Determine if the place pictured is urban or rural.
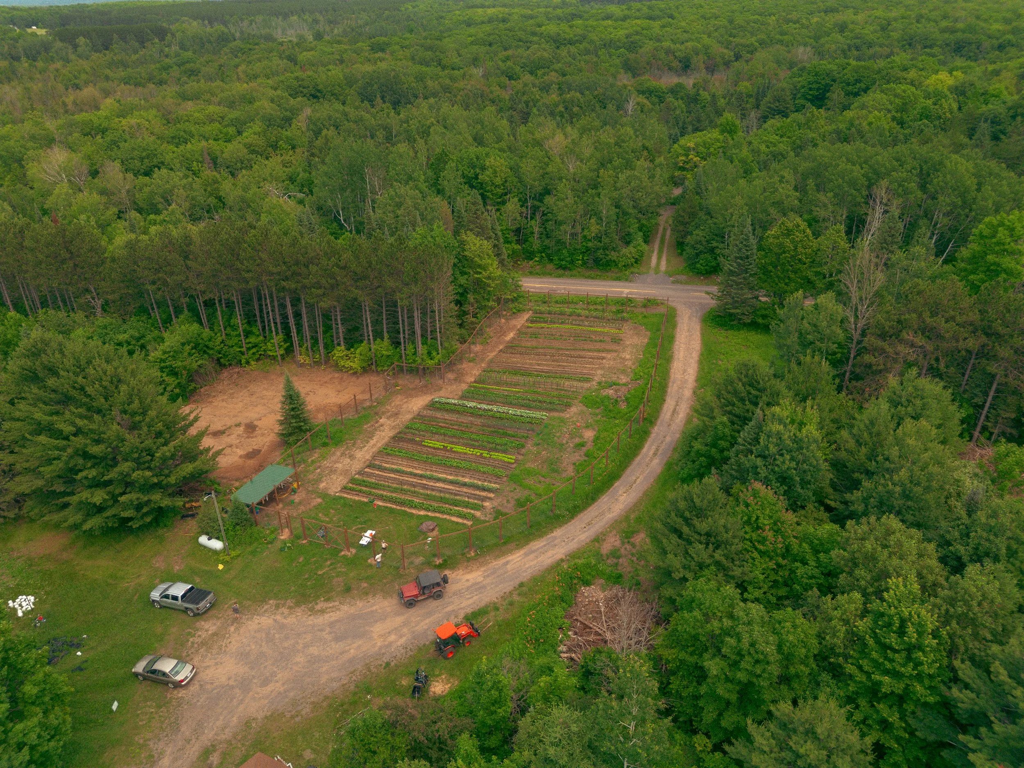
rural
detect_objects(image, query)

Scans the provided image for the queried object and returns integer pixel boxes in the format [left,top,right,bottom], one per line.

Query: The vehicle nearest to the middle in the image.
[393,569,448,609]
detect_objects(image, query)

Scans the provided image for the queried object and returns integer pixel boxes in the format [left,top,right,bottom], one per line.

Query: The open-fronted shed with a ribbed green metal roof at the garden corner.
[234,456,301,523]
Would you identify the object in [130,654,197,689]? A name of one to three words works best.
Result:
car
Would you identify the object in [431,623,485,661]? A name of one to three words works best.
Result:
work vehicle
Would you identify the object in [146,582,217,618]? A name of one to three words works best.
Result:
truck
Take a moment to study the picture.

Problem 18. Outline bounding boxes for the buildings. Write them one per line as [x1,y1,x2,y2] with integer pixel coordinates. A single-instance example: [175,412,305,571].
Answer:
[234,456,301,523]
[240,752,294,768]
